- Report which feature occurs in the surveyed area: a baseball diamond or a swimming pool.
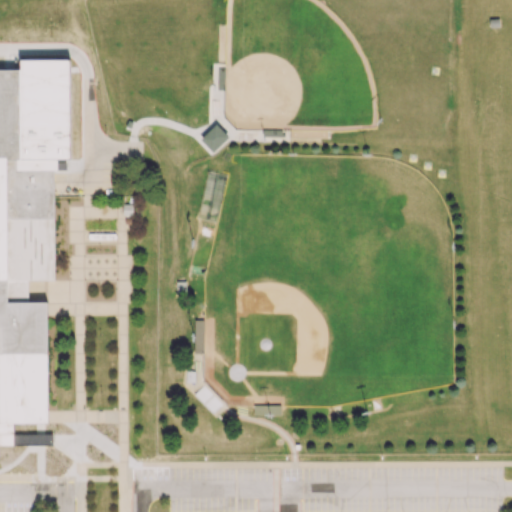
baseball diamond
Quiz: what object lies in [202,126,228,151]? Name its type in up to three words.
building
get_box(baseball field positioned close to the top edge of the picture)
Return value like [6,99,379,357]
[219,0,378,142]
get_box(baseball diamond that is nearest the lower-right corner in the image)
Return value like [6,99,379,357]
[204,152,455,408]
